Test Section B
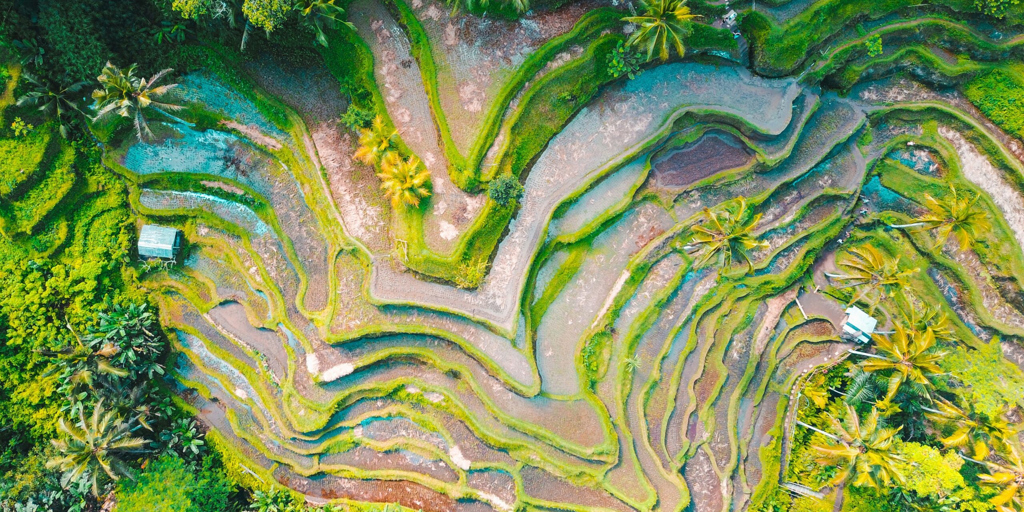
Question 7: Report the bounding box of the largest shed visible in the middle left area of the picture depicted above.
[139,222,188,257]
